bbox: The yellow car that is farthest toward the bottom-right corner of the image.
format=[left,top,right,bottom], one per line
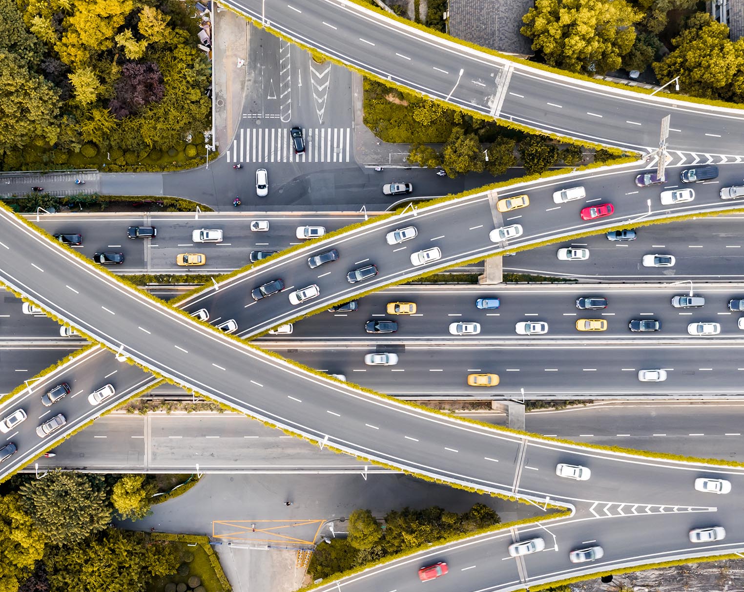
[574,317,608,332]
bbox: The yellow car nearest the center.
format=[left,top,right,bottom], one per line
[384,301,417,314]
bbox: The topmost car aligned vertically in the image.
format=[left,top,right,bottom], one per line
[289,126,306,156]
